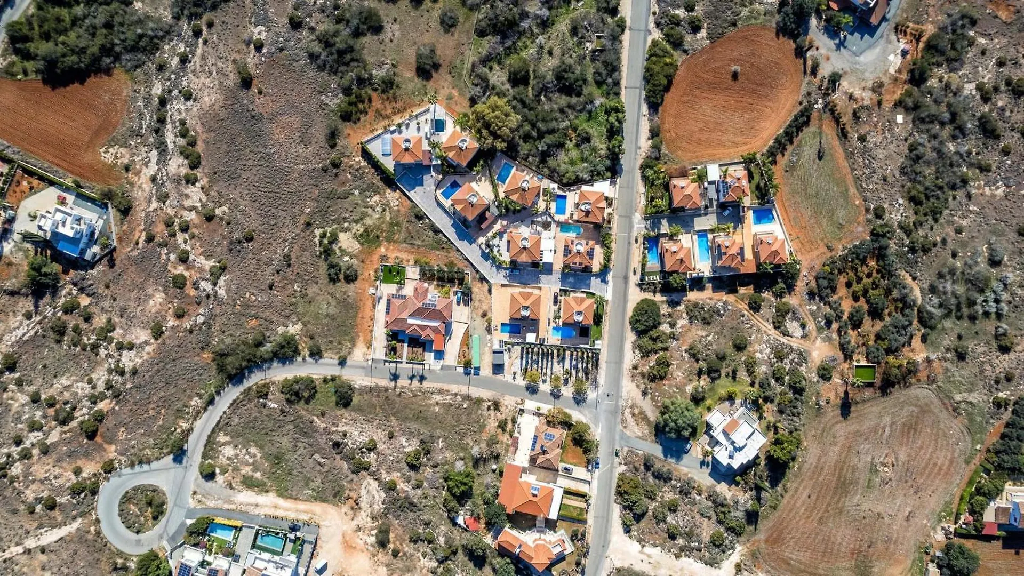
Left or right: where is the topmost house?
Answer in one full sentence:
You can find the topmost house on the right side of the picture.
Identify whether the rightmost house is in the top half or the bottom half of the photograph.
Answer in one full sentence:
The rightmost house sits in the bottom half of the picture.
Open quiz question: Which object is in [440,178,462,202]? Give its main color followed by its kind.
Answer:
blue swimming pool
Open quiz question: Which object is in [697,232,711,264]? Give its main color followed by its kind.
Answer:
blue swimming pool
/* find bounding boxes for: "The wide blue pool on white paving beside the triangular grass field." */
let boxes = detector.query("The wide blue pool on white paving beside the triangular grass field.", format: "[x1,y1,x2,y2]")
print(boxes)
[751,207,777,226]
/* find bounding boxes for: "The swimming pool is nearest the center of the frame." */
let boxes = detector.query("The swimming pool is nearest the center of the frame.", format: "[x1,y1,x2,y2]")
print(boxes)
[500,323,521,335]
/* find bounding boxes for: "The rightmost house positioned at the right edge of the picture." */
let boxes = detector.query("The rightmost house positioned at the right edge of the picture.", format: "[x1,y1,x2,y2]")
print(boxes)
[978,488,1024,535]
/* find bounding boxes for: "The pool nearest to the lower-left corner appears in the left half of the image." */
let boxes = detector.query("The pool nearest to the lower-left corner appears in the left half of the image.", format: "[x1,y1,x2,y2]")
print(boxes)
[206,524,236,542]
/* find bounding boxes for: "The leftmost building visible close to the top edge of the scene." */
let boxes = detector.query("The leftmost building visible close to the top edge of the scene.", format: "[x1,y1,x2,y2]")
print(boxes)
[827,0,890,29]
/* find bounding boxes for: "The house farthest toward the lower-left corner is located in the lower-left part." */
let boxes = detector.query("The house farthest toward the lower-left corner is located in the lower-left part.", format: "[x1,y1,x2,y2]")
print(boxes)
[174,541,211,576]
